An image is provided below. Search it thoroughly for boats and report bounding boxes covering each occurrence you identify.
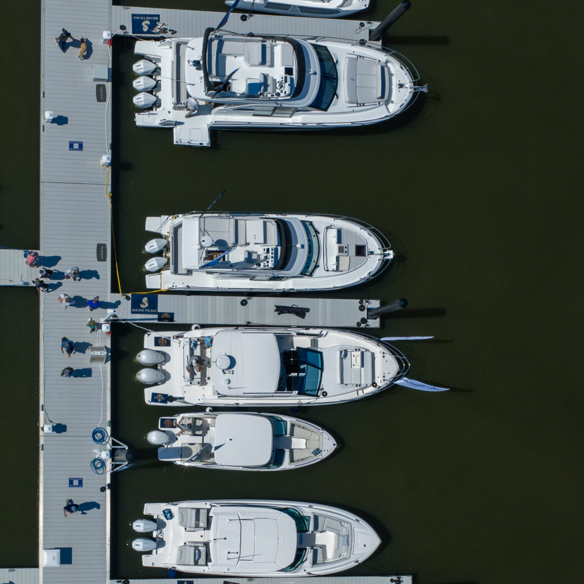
[146,411,340,472]
[131,26,428,147]
[143,211,393,293]
[134,327,410,407]
[225,0,370,18]
[130,499,381,578]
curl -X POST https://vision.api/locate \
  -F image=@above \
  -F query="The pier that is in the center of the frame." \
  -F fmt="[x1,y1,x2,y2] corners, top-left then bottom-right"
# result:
[111,294,380,328]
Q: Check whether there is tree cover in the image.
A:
No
